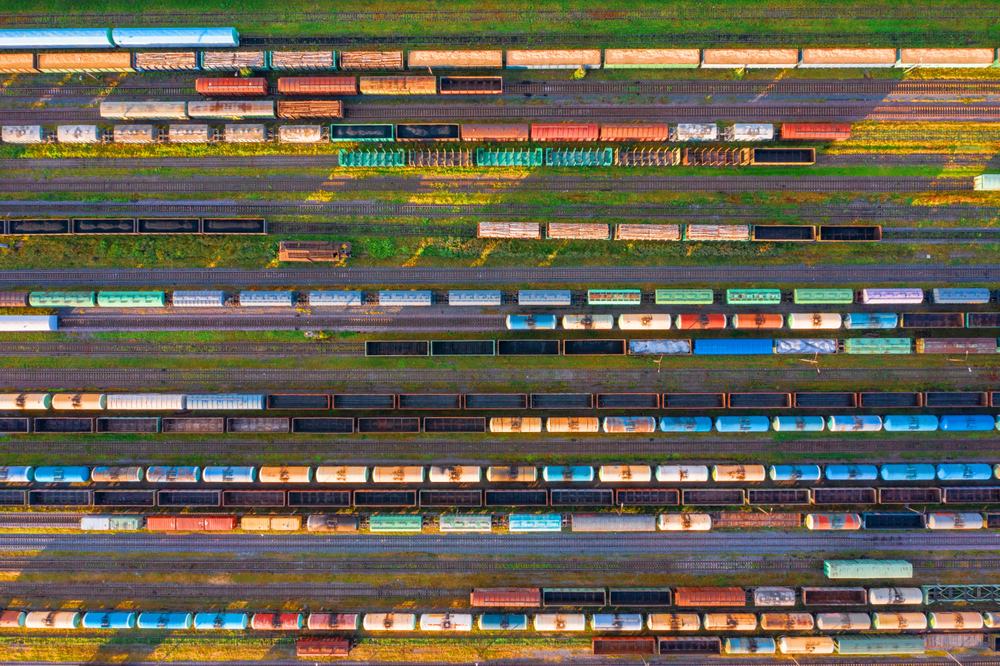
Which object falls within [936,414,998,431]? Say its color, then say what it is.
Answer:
blue rail car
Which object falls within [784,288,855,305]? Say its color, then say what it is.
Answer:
green rail car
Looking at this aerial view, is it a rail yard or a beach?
rail yard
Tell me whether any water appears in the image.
No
